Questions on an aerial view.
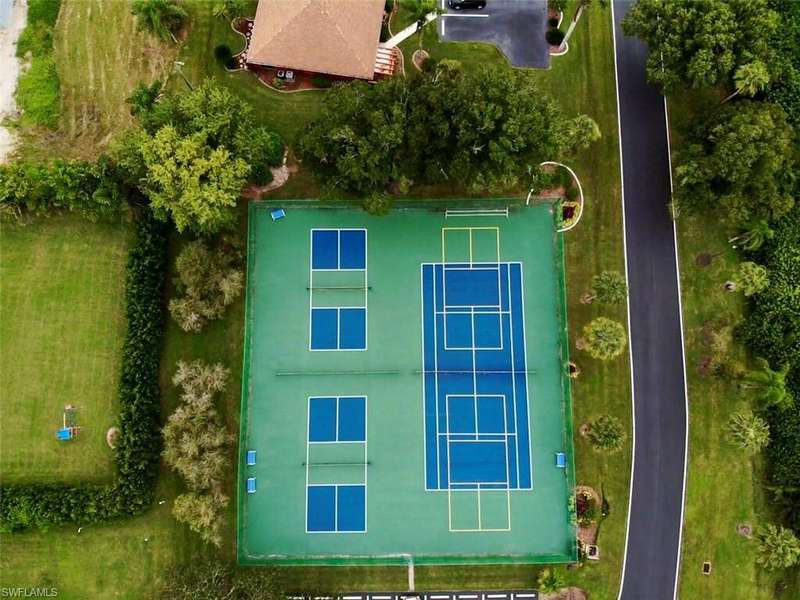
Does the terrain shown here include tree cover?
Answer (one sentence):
Yes, there's tree cover in this view.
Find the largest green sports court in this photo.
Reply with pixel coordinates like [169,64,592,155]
[246,206,568,558]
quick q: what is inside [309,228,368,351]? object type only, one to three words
sports court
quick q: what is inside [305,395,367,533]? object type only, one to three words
sports court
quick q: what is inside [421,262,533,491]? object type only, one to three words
tennis court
